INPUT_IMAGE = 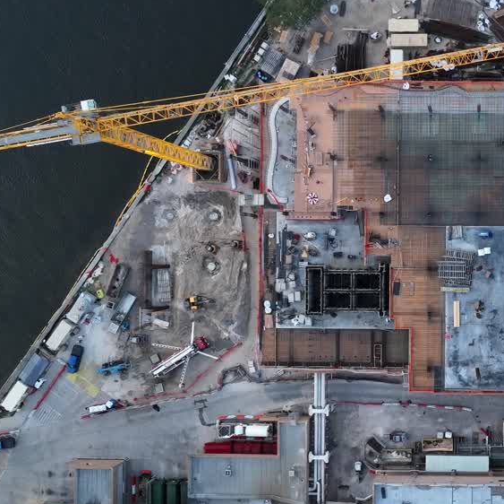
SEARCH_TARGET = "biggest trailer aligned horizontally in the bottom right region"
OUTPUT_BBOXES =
[427,450,489,472]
